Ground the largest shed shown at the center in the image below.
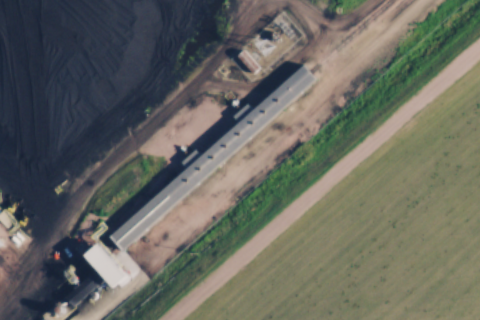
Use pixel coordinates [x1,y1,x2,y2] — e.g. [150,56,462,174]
[110,65,316,248]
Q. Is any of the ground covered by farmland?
Yes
